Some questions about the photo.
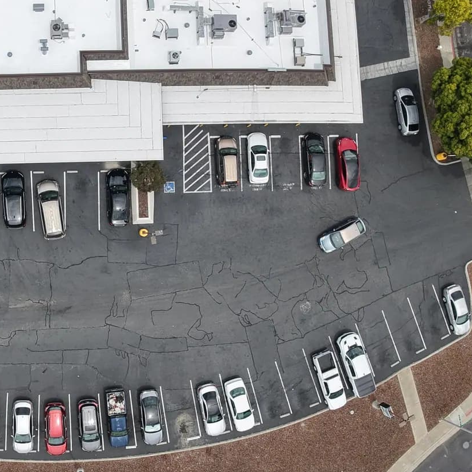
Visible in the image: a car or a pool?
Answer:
car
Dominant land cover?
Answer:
paved ground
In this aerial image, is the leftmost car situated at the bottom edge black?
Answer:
No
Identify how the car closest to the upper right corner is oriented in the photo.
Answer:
up and down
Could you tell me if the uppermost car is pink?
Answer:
No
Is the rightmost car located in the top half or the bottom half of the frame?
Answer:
bottom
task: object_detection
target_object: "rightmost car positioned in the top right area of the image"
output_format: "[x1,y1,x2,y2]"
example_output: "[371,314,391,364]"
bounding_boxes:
[391,87,419,138]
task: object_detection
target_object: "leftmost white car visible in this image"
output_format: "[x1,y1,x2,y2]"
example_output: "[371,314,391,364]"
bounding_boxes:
[9,398,35,453]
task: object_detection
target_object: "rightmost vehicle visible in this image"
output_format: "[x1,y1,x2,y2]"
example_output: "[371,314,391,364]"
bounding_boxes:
[437,281,472,337]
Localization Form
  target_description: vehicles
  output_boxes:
[36,179,64,241]
[315,215,368,254]
[139,388,164,445]
[0,170,26,229]
[300,133,327,188]
[215,137,241,188]
[437,281,472,337]
[77,398,102,453]
[224,376,254,432]
[105,387,130,447]
[9,398,35,453]
[244,133,270,186]
[43,400,67,455]
[391,87,419,138]
[333,137,361,193]
[105,169,131,226]
[335,331,378,400]
[196,380,226,437]
[312,348,345,410]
